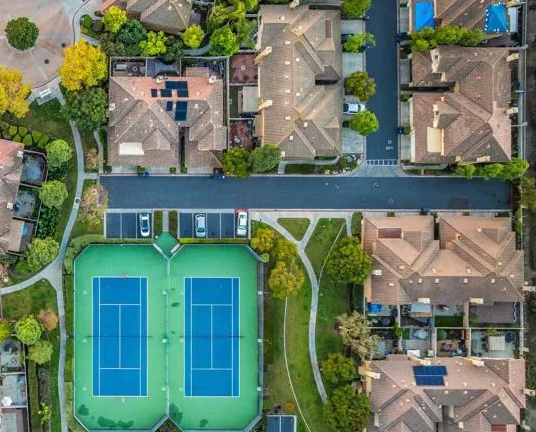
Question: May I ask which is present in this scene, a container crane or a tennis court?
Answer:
tennis court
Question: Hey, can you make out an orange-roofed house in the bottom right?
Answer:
No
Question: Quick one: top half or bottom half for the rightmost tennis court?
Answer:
bottom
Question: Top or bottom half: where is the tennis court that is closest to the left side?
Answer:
bottom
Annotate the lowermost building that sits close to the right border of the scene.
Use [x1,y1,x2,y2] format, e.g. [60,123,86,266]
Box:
[357,352,535,432]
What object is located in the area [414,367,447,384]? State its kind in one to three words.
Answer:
solar panel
